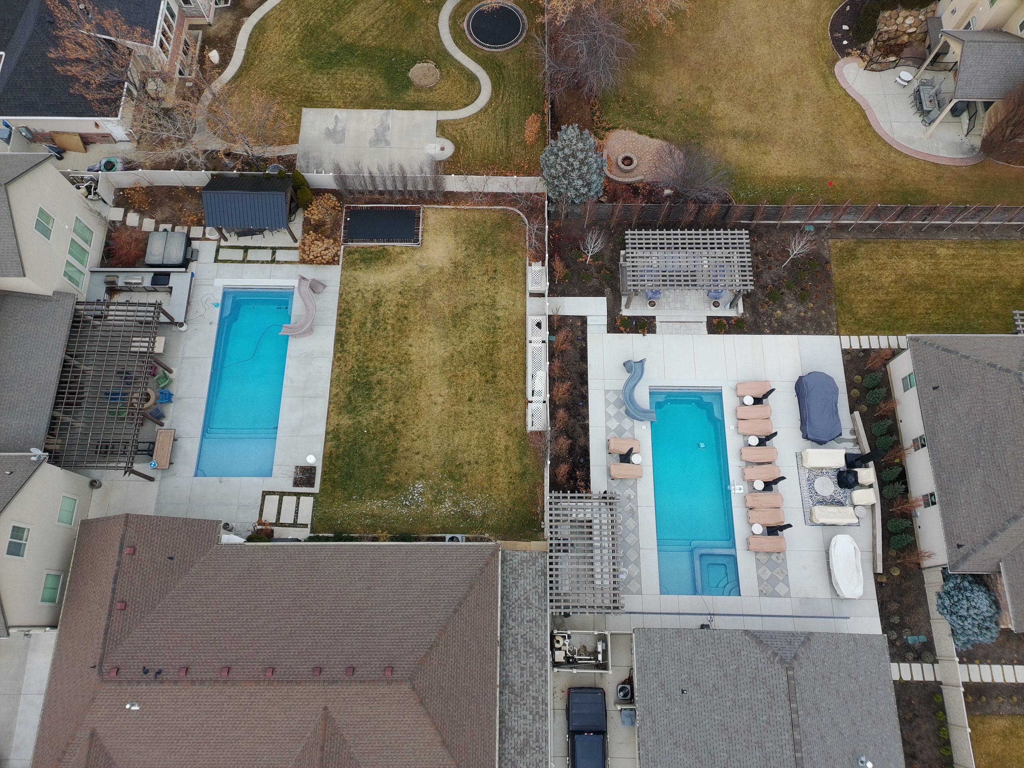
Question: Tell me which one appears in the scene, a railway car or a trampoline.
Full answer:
Visible in the photo is a trampoline.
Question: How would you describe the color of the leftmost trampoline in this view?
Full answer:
The leftmost trampoline is black.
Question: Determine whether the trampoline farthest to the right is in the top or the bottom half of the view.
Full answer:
It is in the top half that the trampoline farthest to the right appears.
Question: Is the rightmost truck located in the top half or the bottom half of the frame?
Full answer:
It is in the bottom half that the rightmost truck appears.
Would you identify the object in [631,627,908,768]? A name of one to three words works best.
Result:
house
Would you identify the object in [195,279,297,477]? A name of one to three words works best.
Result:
swimming pool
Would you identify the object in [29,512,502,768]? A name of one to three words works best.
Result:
house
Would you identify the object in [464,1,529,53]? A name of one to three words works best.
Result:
trampoline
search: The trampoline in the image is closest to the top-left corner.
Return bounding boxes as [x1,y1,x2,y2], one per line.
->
[340,204,425,250]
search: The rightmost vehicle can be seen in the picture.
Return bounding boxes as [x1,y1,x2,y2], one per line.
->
[566,684,613,768]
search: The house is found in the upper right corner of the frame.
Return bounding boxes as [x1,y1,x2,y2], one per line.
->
[912,0,1024,138]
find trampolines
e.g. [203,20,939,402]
[340,204,425,250]
[464,1,529,53]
